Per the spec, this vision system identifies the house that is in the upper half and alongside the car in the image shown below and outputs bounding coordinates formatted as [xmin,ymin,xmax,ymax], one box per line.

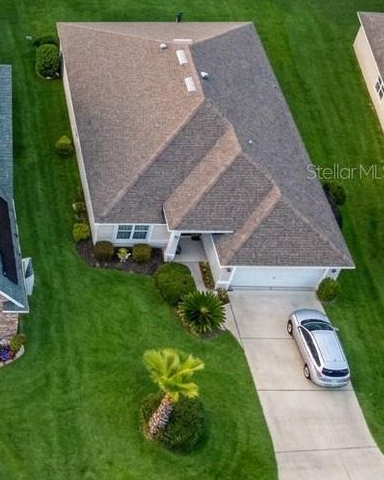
[56,21,356,289]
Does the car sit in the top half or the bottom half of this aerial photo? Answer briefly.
bottom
